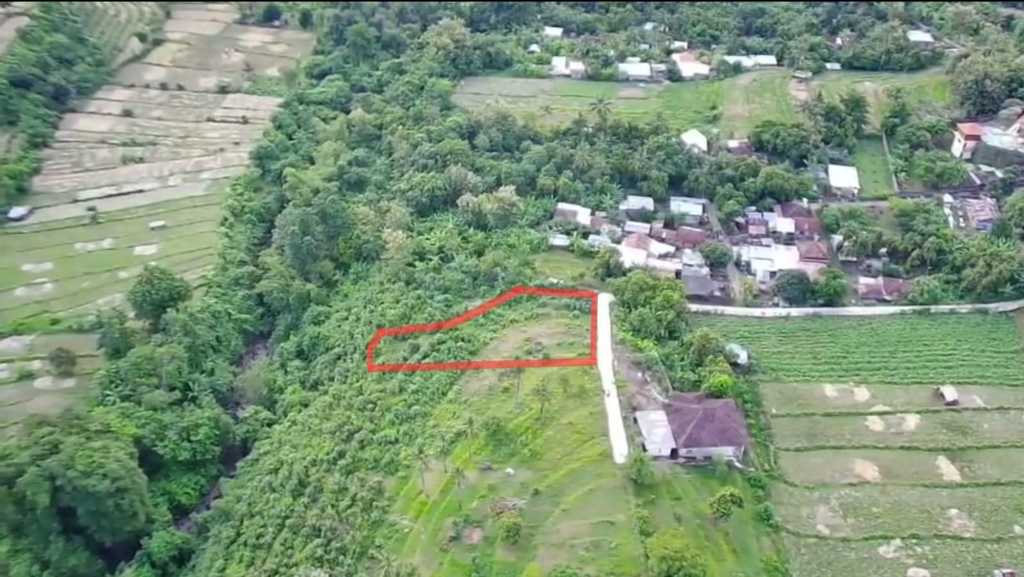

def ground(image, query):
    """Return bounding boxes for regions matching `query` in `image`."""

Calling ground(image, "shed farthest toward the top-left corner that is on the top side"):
[3,204,35,226]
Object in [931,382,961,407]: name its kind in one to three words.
shed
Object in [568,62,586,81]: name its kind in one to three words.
house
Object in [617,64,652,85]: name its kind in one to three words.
house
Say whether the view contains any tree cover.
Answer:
Yes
